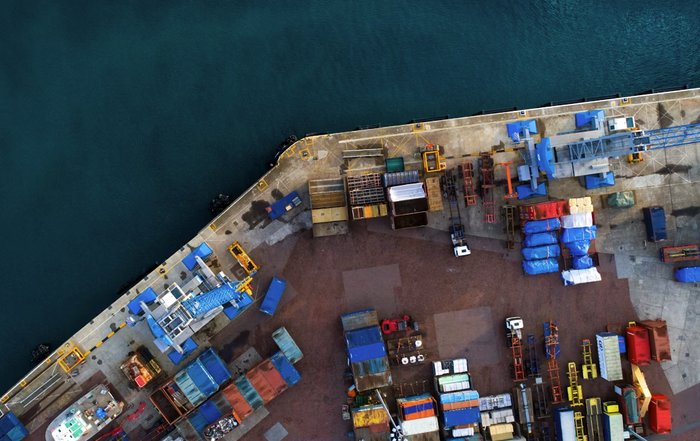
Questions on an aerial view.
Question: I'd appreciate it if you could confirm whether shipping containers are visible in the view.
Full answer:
Yes, there's a shipping container here.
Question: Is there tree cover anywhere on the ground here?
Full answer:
No, the scene doesn't show any tree cover.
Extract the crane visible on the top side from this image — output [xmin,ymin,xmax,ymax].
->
[505,110,700,200]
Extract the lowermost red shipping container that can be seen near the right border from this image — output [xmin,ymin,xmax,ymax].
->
[647,389,673,436]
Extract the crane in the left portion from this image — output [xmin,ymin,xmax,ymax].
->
[126,241,258,366]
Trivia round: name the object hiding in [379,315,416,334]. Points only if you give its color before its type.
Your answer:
red vehicle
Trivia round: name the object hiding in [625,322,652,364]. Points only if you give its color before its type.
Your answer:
red shipping container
